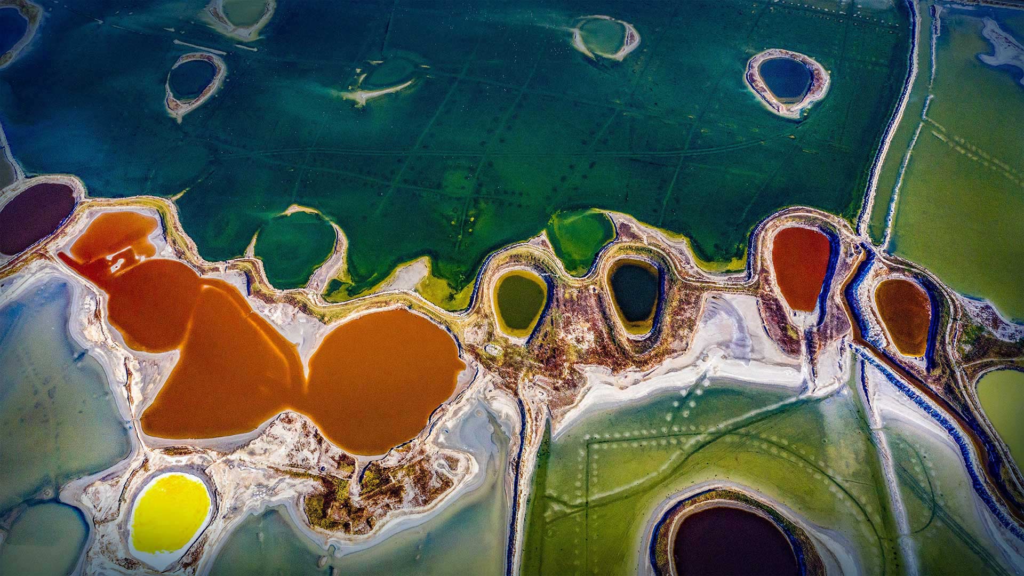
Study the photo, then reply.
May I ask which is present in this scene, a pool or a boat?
pool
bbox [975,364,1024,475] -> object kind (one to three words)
pond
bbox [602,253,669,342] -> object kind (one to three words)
pond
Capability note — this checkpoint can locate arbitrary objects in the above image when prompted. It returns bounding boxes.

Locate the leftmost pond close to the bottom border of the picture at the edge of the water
[121,466,217,576]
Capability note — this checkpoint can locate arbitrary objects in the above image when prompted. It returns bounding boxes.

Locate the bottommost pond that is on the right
[649,486,828,576]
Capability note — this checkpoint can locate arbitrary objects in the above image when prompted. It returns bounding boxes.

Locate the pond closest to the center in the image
[489,264,557,348]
